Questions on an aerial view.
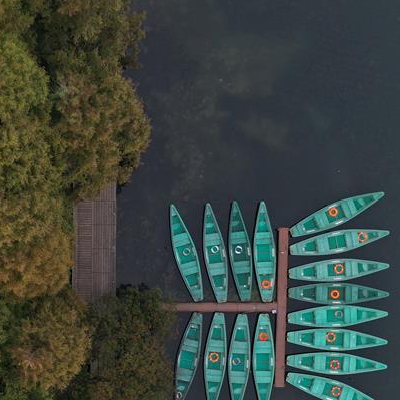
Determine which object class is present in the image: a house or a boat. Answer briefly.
boat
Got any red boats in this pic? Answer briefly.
No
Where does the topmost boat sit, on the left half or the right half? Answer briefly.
right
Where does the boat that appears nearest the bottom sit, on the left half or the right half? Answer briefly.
right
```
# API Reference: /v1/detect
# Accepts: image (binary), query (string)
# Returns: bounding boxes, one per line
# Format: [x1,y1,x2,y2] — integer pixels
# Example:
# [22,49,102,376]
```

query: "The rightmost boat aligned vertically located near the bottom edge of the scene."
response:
[253,309,275,400]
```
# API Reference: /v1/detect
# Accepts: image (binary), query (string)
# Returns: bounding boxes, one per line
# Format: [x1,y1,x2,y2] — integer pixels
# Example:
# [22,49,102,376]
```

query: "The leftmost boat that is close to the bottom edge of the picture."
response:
[175,311,203,400]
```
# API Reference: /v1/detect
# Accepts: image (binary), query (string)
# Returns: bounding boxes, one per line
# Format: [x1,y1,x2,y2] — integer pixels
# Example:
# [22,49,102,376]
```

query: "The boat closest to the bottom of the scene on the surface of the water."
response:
[284,372,375,400]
